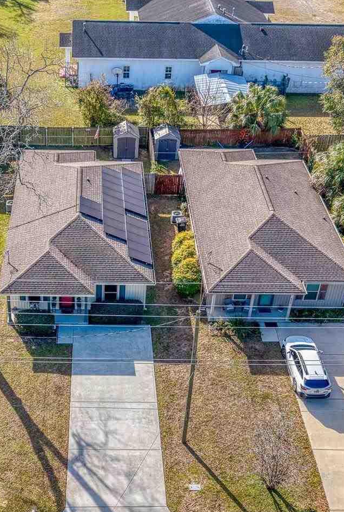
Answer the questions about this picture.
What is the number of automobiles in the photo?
1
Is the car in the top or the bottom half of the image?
bottom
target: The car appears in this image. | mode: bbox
[286,339,335,399]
